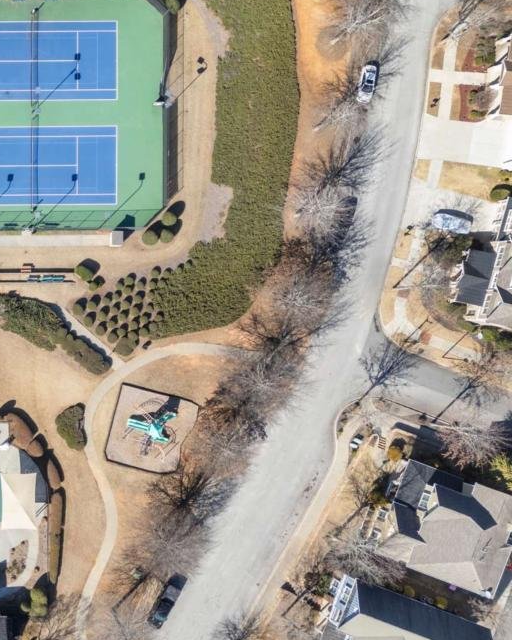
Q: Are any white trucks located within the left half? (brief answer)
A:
No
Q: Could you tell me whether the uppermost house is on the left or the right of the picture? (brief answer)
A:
right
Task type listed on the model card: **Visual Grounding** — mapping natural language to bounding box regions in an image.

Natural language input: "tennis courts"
[0,0,164,114]
[0,113,164,230]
